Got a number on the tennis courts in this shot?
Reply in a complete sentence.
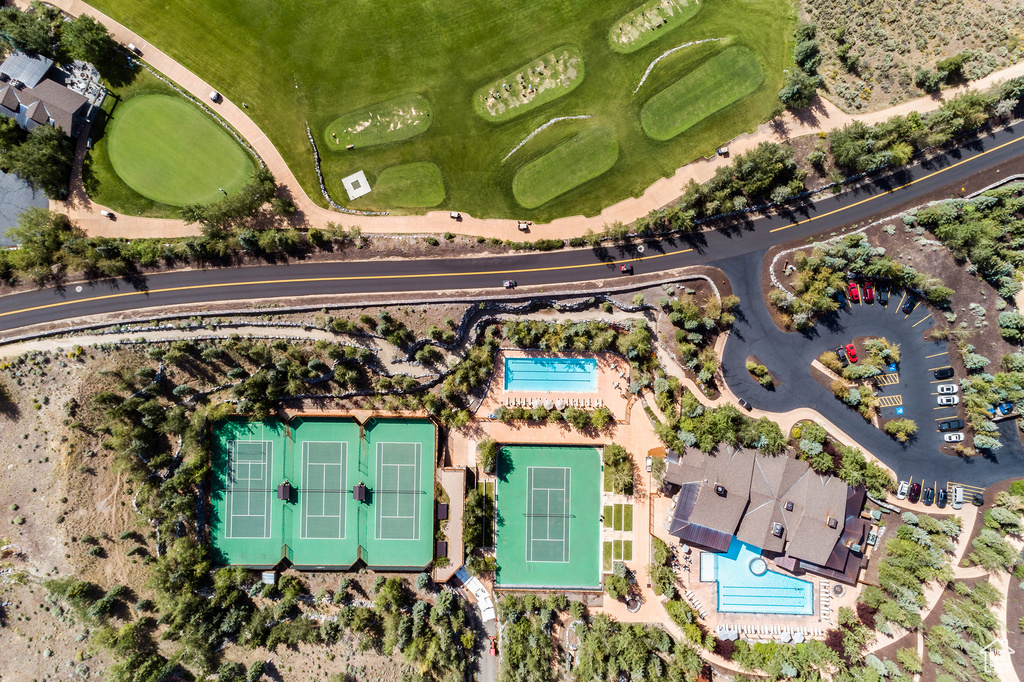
My tally gives 4 tennis courts in this view.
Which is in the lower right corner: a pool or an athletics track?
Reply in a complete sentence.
The one visible in the lower right corner is a pool.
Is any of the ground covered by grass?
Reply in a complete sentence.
Yes, grass can be seen from above here.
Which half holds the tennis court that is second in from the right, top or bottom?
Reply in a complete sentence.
The tennis court that is second in from the right sits in the bottom half of the picture.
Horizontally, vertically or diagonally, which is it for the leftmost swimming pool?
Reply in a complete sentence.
Seen from above, the leftmost swimming pool lies horizontally.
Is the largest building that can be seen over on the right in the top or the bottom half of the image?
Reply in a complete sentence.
The largest building that can be seen over on the right sits in the bottom half of the picture.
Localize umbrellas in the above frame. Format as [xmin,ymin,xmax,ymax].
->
[792,631,804,643]
[727,629,738,641]
[544,399,553,409]
[532,399,542,408]
[717,628,728,640]
[779,630,791,642]
[555,399,565,409]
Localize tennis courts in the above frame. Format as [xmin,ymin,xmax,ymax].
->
[210,417,285,566]
[359,419,434,566]
[285,417,361,566]
[496,445,602,586]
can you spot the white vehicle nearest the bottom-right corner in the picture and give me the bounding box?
[951,485,964,509]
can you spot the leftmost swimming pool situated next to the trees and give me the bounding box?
[504,357,598,393]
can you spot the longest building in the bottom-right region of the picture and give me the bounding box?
[664,445,871,585]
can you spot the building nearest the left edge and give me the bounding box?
[0,51,95,138]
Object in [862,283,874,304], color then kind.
red vehicle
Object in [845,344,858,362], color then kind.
red vehicle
